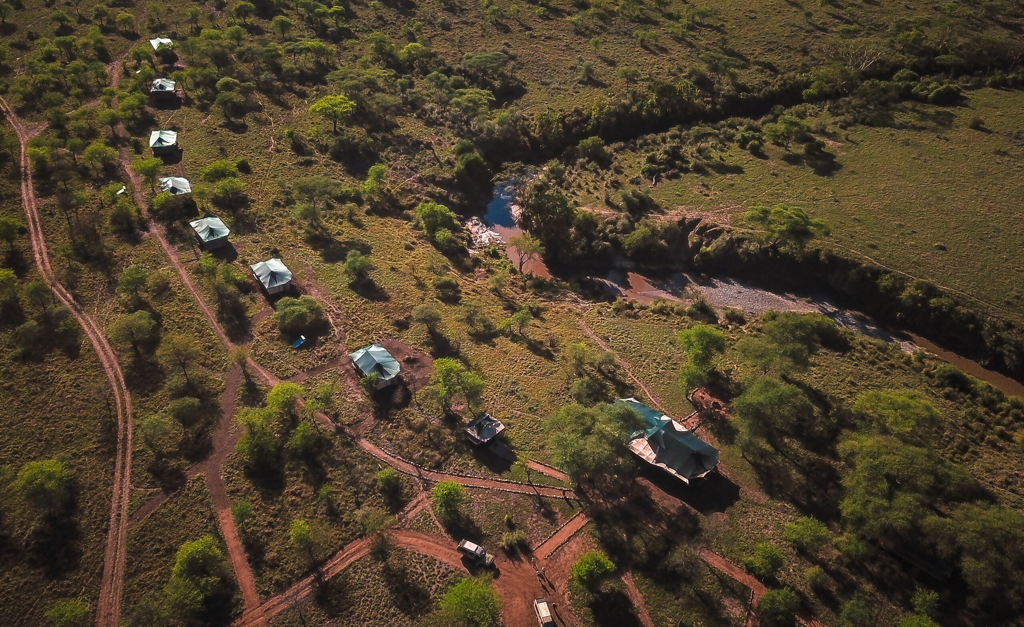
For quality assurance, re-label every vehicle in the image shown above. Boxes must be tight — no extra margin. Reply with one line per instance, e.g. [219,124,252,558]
[534,598,555,627]
[459,539,495,571]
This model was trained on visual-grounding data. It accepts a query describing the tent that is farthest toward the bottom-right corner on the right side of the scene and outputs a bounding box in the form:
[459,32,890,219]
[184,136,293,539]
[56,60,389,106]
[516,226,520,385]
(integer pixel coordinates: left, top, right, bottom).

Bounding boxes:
[608,397,722,490]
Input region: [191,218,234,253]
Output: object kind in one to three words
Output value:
tent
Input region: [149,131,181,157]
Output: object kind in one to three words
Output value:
tent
